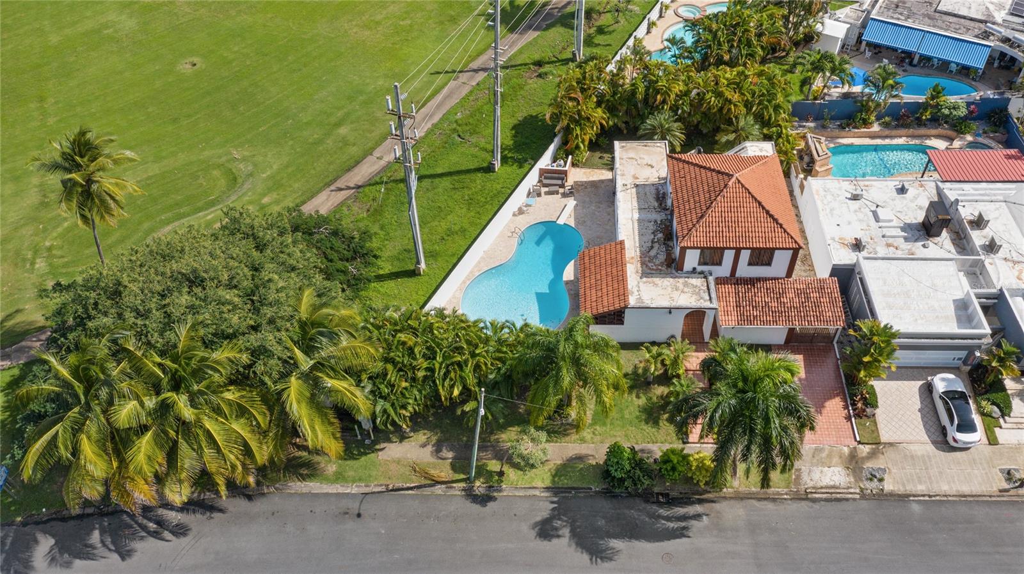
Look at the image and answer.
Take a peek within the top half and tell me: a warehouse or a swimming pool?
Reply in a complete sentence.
The one visible within the top half is a swimming pool.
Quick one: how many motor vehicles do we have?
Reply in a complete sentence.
In total, there is 1 motor vehicle in the scene.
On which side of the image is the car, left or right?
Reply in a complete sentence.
It is on the right.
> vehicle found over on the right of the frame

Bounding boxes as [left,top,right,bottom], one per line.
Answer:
[934,371,986,446]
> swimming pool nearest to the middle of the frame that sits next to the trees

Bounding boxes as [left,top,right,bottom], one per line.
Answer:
[458,218,587,334]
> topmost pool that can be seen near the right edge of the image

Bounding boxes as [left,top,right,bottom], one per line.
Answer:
[858,72,981,96]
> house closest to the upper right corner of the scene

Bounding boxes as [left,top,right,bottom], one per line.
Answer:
[858,0,1024,100]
